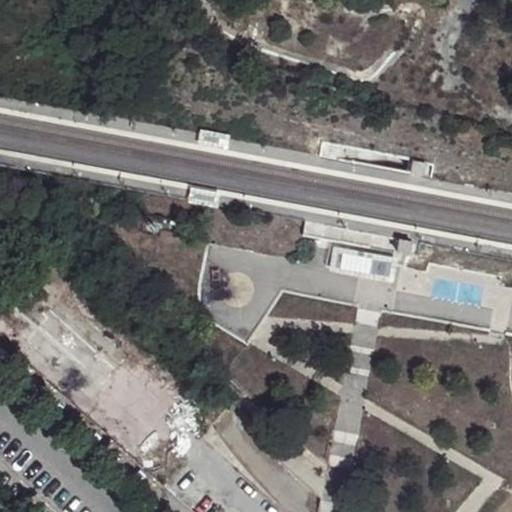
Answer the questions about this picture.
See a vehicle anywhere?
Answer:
Yes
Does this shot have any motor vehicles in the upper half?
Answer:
No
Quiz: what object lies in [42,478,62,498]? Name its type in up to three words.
car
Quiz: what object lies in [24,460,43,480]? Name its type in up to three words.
car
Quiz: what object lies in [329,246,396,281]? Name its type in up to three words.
building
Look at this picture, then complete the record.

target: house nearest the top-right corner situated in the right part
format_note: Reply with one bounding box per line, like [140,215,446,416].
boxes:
[410,158,436,176]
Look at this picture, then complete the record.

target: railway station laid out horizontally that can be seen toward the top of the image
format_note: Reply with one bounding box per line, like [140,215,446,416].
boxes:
[0,96,512,259]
